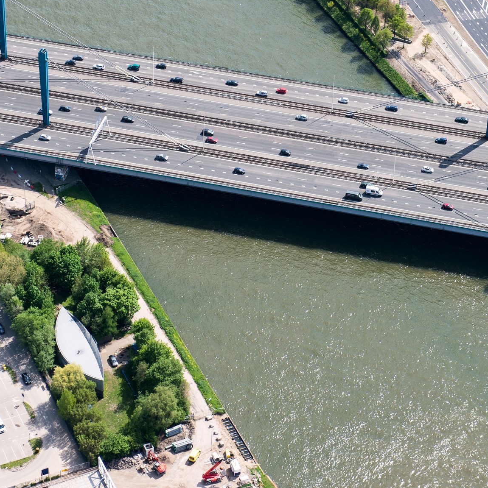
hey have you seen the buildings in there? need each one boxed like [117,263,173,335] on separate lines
[55,307,104,397]
[30,456,115,488]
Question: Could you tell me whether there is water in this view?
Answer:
Yes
